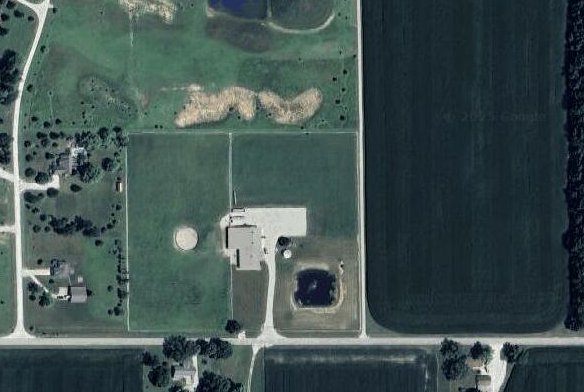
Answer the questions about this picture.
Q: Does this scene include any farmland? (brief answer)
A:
Yes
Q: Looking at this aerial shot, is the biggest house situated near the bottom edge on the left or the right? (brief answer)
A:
left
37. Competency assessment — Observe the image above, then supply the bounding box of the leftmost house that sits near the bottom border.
[174,358,195,388]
